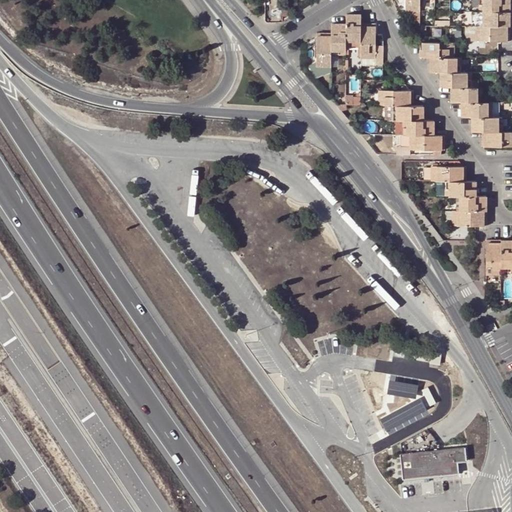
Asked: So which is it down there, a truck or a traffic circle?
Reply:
truck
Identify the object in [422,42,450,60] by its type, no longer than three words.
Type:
house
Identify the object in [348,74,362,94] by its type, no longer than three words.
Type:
swimming pool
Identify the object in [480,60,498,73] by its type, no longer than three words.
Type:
swimming pool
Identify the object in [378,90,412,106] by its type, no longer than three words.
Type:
house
